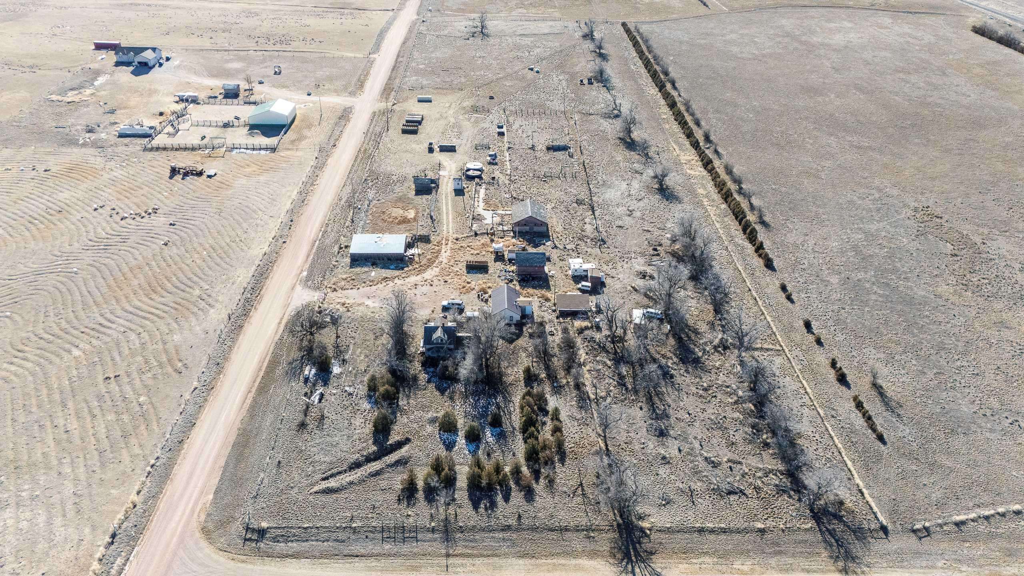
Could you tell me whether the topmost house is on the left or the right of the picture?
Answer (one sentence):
It is on the left.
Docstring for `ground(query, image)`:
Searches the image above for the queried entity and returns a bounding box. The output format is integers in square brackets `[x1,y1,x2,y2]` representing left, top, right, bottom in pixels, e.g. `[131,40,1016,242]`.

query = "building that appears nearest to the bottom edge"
[421,315,474,354]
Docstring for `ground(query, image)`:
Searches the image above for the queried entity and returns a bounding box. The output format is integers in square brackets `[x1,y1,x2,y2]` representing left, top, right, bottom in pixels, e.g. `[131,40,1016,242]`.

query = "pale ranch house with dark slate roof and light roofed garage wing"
[114,44,163,66]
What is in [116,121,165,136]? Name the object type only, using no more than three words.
building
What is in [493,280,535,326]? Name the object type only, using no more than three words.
house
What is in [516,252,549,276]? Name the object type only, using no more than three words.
shed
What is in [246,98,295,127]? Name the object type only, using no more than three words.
barn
